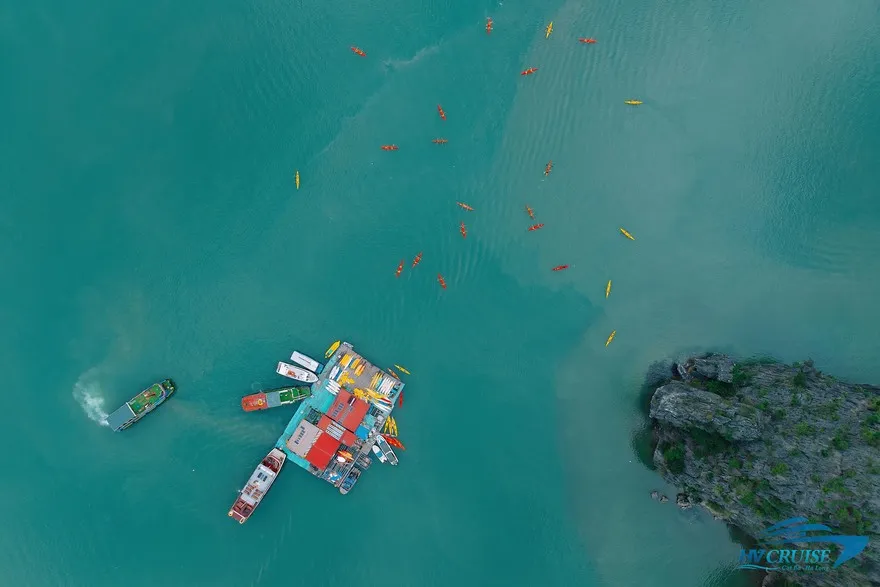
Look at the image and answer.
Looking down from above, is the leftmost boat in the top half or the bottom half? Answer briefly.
bottom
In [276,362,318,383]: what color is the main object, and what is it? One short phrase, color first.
white boat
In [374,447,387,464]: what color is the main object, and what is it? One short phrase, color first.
white boat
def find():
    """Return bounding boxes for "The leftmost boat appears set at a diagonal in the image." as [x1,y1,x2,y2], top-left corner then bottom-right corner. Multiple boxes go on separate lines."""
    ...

[104,381,172,431]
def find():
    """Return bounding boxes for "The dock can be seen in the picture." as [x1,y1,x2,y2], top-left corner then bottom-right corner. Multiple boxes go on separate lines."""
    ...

[277,344,406,486]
